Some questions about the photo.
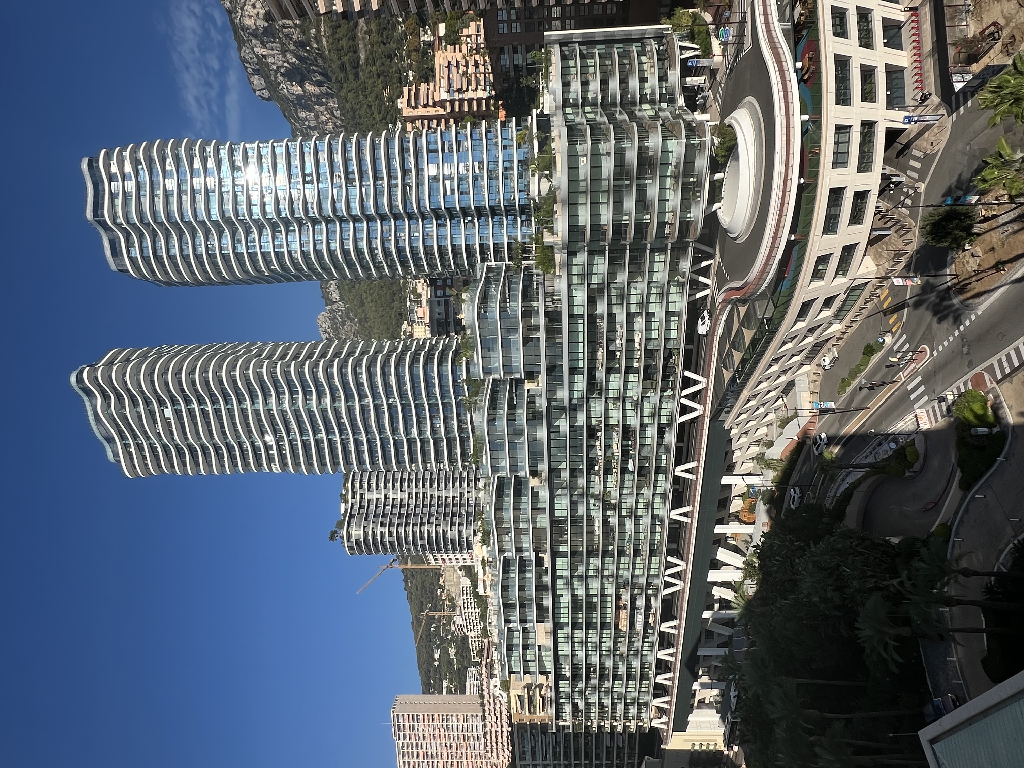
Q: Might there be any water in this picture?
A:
No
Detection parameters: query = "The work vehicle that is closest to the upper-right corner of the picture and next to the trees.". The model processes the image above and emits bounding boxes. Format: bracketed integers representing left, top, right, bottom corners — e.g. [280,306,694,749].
[976,2,1007,53]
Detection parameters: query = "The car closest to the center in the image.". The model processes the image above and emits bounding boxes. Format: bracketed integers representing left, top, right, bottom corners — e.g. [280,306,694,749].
[697,309,709,336]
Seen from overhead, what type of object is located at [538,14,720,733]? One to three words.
building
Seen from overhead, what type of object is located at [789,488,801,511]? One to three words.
vehicle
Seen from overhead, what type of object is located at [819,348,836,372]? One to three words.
car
